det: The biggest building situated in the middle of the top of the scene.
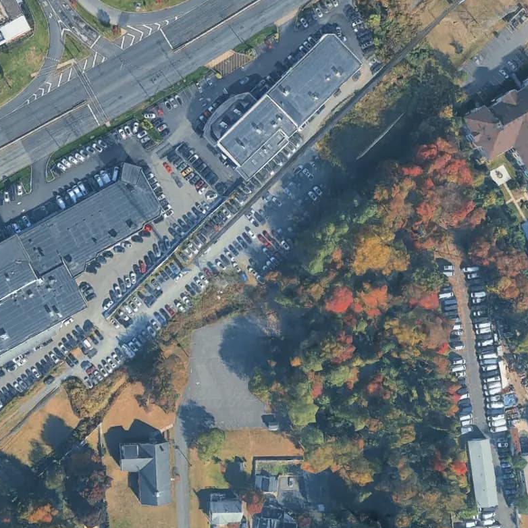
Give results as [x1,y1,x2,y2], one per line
[216,35,362,180]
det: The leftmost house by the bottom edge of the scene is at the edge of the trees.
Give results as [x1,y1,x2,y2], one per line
[119,443,178,504]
